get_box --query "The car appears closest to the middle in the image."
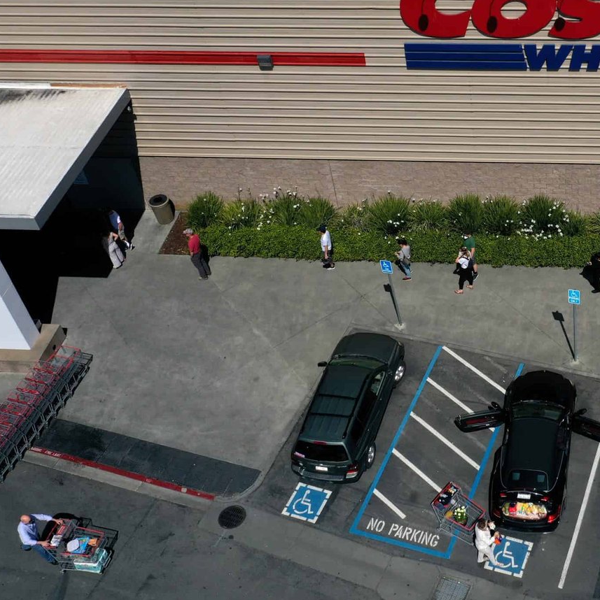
[287,333,400,487]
